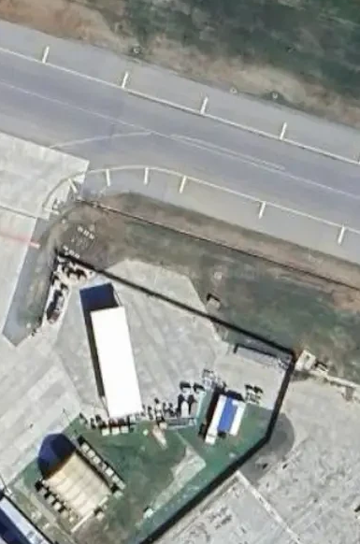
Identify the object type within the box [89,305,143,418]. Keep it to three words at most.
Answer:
shed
